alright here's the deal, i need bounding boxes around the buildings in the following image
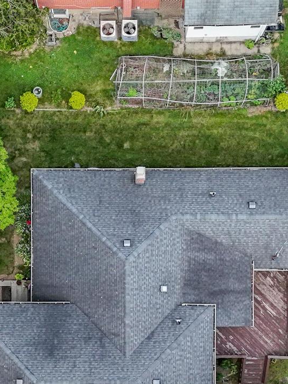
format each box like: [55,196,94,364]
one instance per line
[184,0,281,43]
[34,0,184,18]
[0,166,288,384]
